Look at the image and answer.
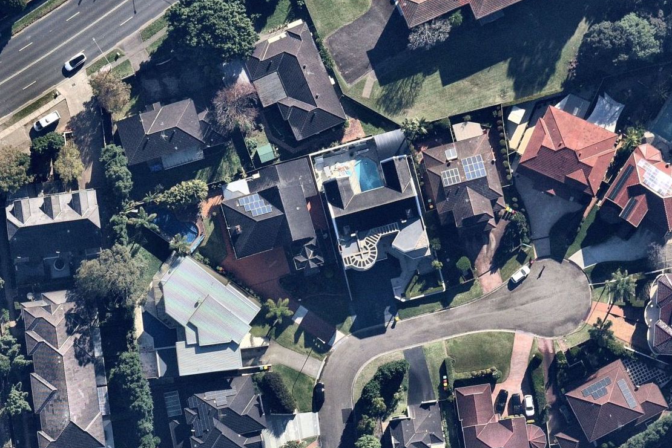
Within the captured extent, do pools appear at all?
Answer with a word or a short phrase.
Yes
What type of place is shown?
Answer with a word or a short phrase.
residential area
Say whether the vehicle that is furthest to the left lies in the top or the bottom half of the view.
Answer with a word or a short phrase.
top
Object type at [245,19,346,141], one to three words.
house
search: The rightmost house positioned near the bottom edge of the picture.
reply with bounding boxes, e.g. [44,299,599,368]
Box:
[565,360,669,442]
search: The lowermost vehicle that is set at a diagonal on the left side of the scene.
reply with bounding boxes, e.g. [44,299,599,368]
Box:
[34,110,59,130]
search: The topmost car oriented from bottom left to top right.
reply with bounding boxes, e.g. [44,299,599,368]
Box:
[64,52,87,71]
